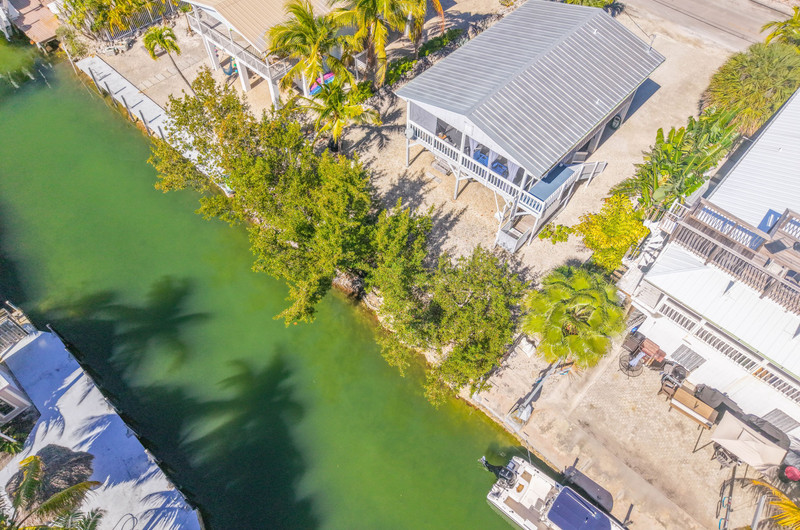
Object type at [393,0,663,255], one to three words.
house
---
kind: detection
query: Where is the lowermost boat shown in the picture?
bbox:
[470,450,609,530]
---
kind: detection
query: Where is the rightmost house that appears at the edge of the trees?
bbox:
[617,82,800,451]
